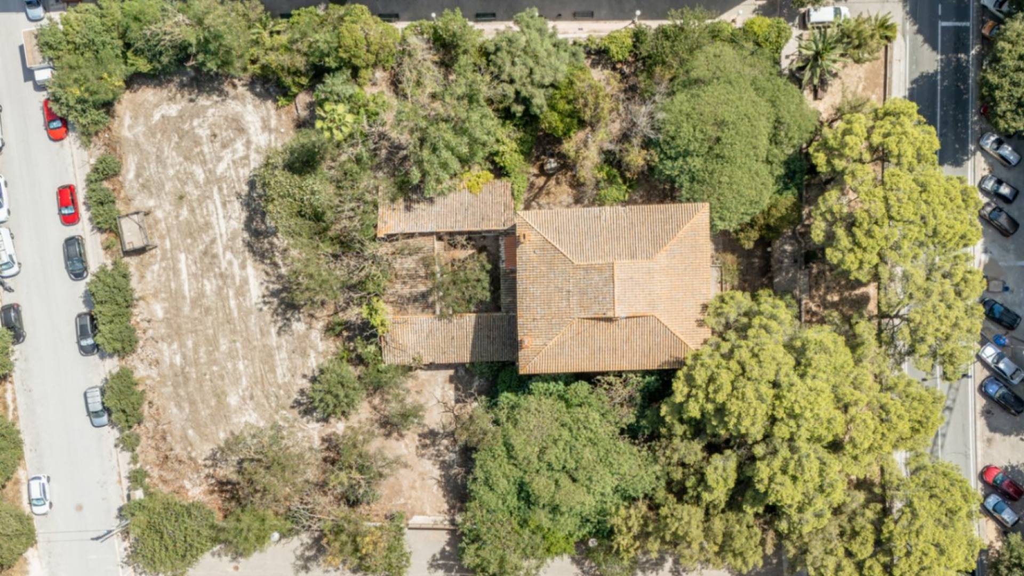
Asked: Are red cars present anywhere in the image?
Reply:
Yes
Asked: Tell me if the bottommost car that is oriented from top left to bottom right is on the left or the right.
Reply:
right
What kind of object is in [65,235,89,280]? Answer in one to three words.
car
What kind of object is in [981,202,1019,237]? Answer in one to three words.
car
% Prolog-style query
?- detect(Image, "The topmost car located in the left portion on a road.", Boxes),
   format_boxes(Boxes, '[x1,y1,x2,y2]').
[22,0,47,21]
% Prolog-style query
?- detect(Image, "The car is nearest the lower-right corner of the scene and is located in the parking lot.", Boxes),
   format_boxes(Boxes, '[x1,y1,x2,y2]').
[980,492,1020,528]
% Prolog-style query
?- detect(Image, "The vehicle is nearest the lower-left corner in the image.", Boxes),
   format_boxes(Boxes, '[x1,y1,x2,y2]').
[28,474,52,515]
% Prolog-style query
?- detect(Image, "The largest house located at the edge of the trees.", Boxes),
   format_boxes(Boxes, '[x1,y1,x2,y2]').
[516,201,713,375]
